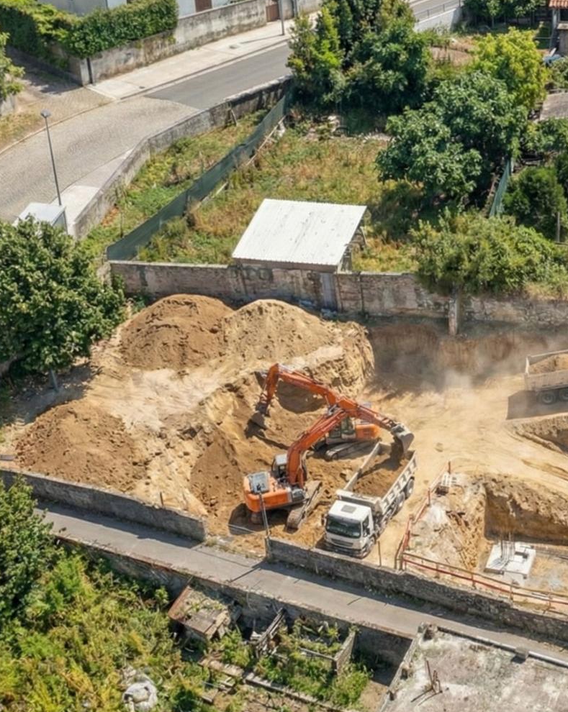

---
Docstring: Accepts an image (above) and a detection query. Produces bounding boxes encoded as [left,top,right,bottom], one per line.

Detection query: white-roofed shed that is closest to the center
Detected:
[233,199,366,313]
